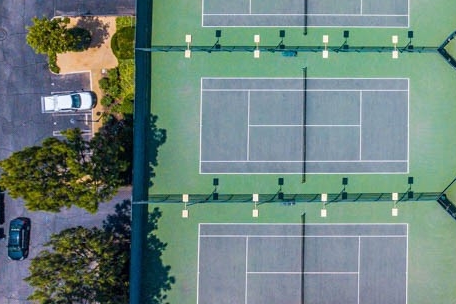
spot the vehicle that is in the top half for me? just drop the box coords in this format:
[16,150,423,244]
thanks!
[41,91,96,113]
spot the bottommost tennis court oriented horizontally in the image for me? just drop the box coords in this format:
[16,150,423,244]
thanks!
[140,201,456,304]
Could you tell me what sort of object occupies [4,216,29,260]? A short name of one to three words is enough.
car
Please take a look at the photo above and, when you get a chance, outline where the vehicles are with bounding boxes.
[41,91,96,113]
[4,216,29,260]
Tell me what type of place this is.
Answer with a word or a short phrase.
sports ground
